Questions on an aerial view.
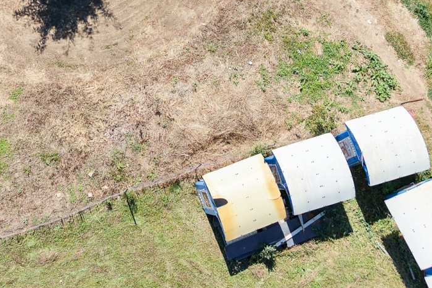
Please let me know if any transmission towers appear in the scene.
No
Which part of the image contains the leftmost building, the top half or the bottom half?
bottom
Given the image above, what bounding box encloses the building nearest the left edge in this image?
[187,154,286,242]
